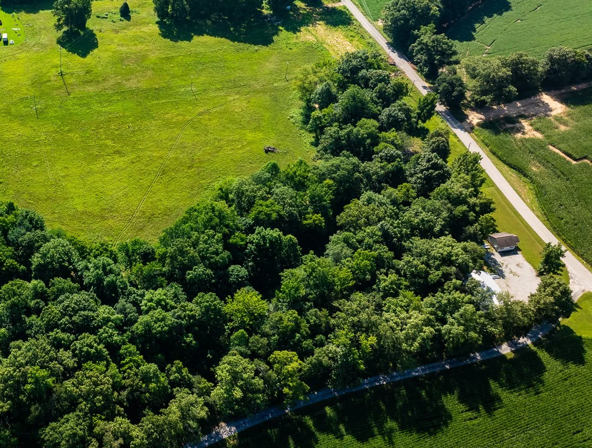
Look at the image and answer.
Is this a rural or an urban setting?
rural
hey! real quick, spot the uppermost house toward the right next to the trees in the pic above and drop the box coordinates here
[487,231,520,253]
